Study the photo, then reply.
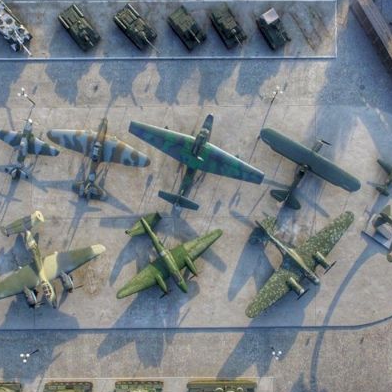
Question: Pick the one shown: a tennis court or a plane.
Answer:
plane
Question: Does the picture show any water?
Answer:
No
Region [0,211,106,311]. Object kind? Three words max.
airplane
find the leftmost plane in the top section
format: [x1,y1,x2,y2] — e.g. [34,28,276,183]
[0,118,59,179]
